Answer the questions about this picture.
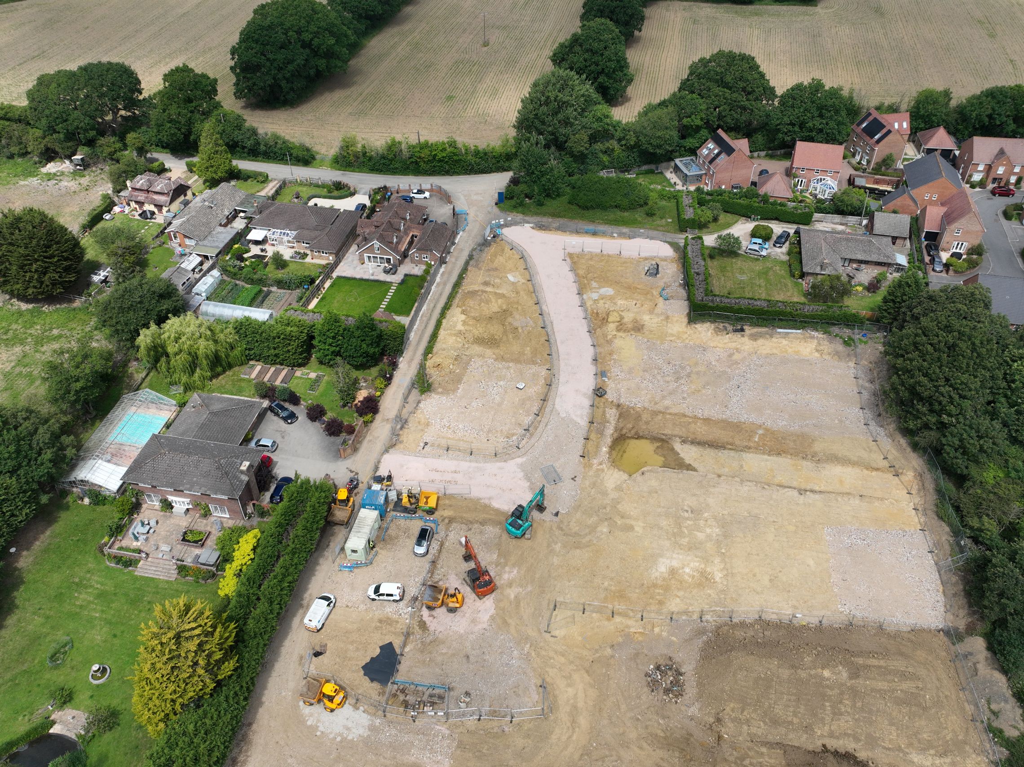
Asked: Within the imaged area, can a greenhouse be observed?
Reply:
Yes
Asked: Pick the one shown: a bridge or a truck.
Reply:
truck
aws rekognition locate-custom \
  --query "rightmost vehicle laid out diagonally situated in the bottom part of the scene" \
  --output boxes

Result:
[506,482,547,543]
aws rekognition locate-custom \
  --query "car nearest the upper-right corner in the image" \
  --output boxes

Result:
[990,183,1015,197]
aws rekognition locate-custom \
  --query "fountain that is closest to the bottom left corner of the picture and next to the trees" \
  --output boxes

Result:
[87,661,111,683]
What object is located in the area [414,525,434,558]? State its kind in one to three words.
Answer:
car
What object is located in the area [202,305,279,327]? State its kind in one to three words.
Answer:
greenhouse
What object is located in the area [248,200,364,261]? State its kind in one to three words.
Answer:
house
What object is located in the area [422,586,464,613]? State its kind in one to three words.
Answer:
truck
